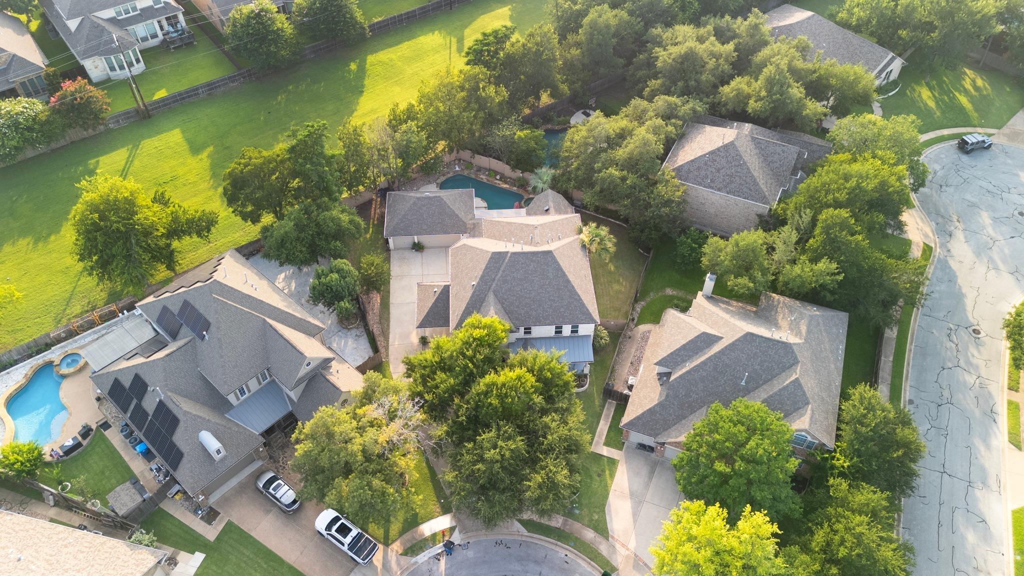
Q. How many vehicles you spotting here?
3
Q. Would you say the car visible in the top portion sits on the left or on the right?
right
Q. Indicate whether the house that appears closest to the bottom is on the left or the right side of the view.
left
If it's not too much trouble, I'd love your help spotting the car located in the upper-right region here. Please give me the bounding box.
[956,133,993,154]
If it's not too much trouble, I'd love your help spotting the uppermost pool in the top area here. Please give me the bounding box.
[541,126,578,167]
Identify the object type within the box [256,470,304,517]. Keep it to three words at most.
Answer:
car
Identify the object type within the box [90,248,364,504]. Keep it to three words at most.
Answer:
house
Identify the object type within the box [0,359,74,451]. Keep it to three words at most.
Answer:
swimming pool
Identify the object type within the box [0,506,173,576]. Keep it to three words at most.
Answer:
house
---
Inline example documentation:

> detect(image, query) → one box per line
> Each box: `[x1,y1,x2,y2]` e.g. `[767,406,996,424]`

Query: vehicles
[314,507,380,566]
[256,470,304,517]
[956,133,993,154]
